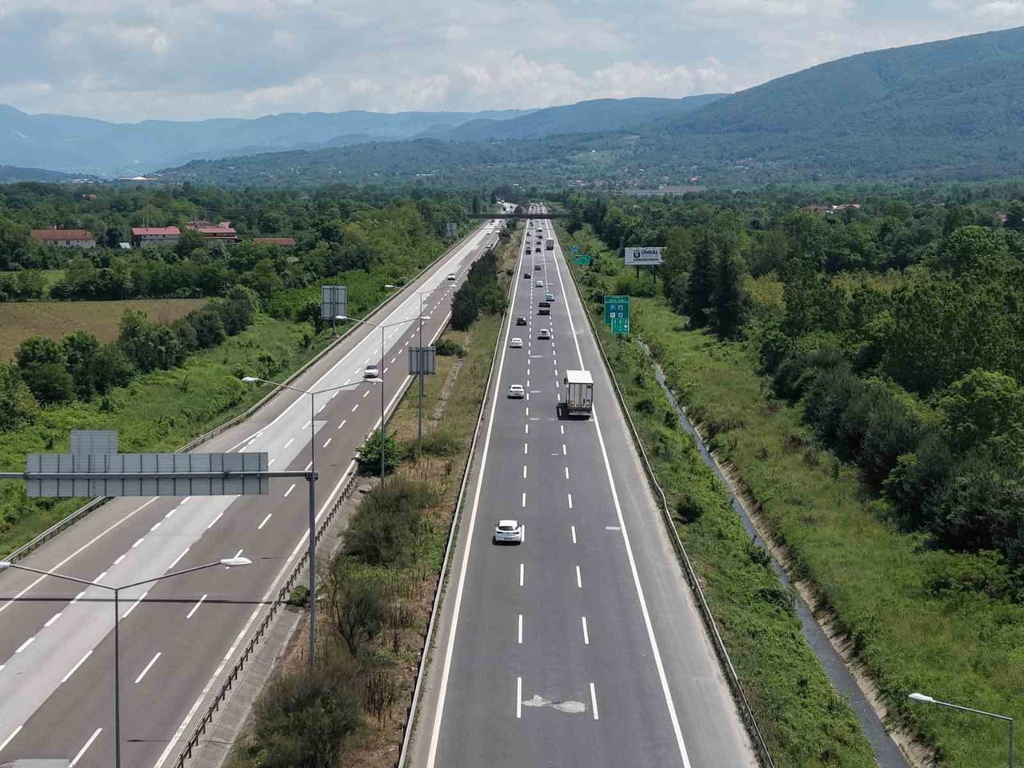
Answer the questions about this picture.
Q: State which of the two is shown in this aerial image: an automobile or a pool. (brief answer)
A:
automobile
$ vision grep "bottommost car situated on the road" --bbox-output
[494,515,522,540]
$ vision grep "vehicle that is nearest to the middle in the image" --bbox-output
[508,382,525,396]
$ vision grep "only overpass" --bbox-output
[454,211,583,231]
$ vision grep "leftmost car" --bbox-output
[364,363,381,377]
